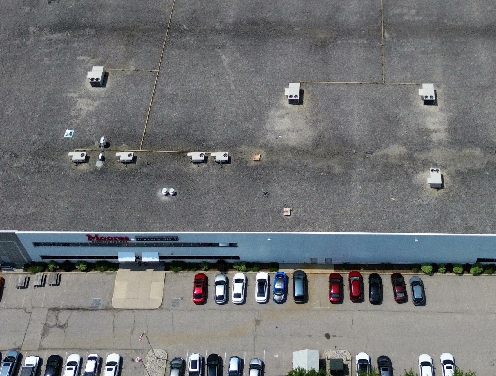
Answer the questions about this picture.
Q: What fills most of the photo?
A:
buildings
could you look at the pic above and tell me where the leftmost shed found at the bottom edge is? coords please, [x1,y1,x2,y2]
[298,353,325,374]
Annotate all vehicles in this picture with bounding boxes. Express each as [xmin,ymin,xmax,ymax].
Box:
[255,273,268,304]
[206,353,221,376]
[83,352,101,376]
[228,354,242,376]
[328,273,343,305]
[439,352,455,376]
[214,274,228,305]
[292,271,307,305]
[187,351,203,376]
[65,353,83,376]
[368,273,382,305]
[232,273,246,305]
[418,353,435,376]
[410,277,426,306]
[20,353,41,376]
[273,273,287,302]
[0,351,22,376]
[45,354,62,376]
[391,273,408,305]
[377,353,393,376]
[249,357,264,376]
[170,357,186,376]
[349,272,364,302]
[193,273,207,305]
[105,353,121,376]
[356,351,370,376]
